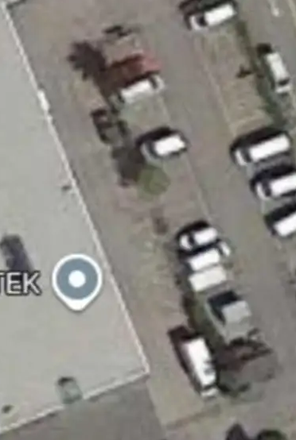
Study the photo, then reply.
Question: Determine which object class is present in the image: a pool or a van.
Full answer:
Of the two, only a van appears.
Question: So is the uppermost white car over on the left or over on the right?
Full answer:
The uppermost white car appears in the right half of the scene.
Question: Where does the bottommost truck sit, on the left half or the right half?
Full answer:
It is on the right.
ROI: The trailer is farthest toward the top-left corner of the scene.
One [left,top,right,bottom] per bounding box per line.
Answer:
[103,36,143,64]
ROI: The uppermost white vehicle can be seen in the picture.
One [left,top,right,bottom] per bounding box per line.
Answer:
[188,0,240,30]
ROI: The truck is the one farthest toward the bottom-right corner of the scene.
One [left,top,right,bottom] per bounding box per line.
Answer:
[171,333,223,400]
